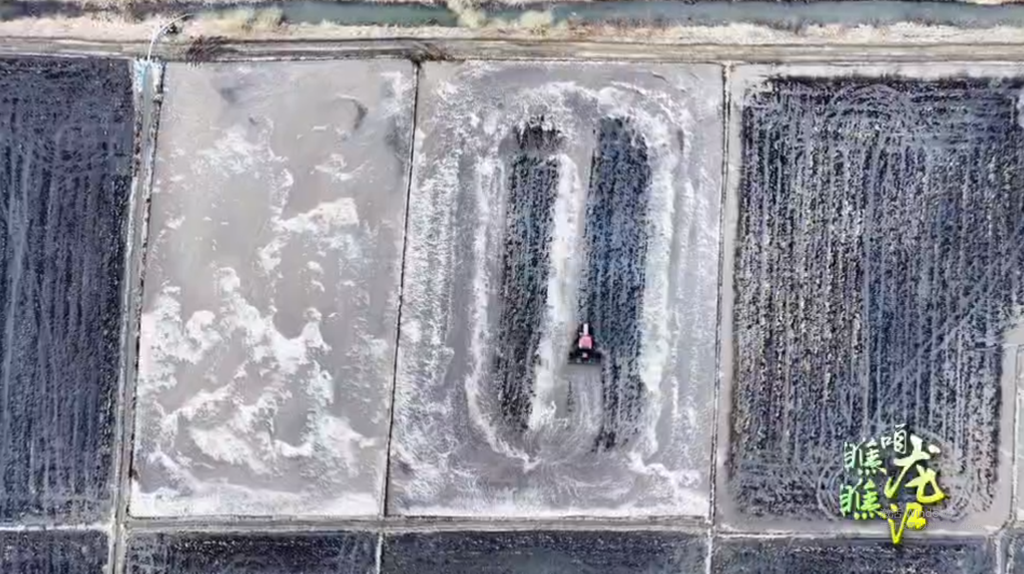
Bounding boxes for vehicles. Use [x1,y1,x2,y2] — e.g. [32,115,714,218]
[570,322,602,365]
